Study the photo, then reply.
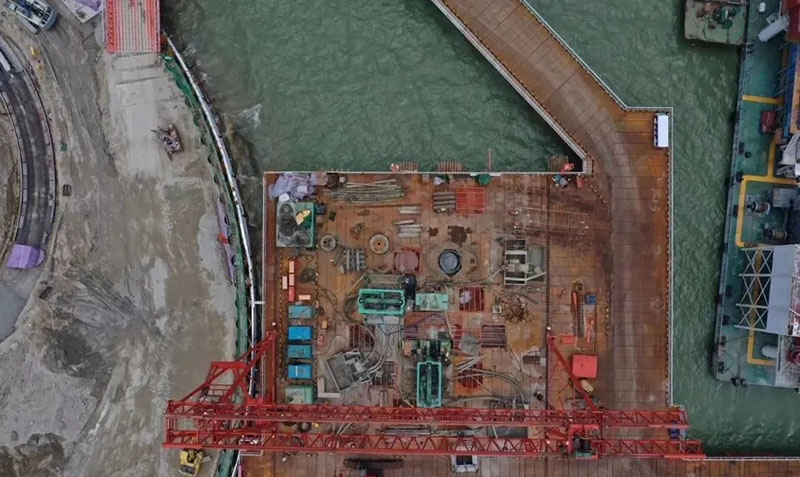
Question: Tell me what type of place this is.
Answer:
port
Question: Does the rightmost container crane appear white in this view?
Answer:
No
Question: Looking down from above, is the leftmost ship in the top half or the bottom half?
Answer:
top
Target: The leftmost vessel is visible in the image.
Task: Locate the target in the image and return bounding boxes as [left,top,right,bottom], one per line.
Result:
[680,0,746,49]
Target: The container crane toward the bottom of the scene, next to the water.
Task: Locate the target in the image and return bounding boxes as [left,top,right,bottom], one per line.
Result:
[162,329,708,460]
